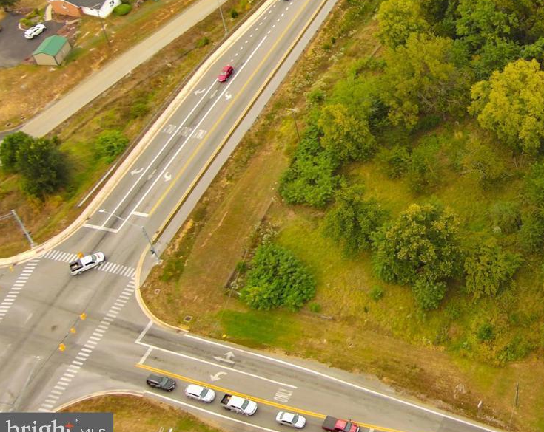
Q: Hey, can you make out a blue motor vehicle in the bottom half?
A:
No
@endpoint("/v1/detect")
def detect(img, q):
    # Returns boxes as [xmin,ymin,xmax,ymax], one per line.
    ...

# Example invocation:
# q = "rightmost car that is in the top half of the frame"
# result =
[216,63,233,80]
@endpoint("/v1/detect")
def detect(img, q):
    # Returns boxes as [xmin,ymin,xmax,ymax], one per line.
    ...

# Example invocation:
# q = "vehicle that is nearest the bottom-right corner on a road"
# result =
[319,413,360,432]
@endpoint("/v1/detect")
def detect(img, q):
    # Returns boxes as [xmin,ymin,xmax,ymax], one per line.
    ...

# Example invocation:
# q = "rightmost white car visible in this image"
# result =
[273,408,307,429]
